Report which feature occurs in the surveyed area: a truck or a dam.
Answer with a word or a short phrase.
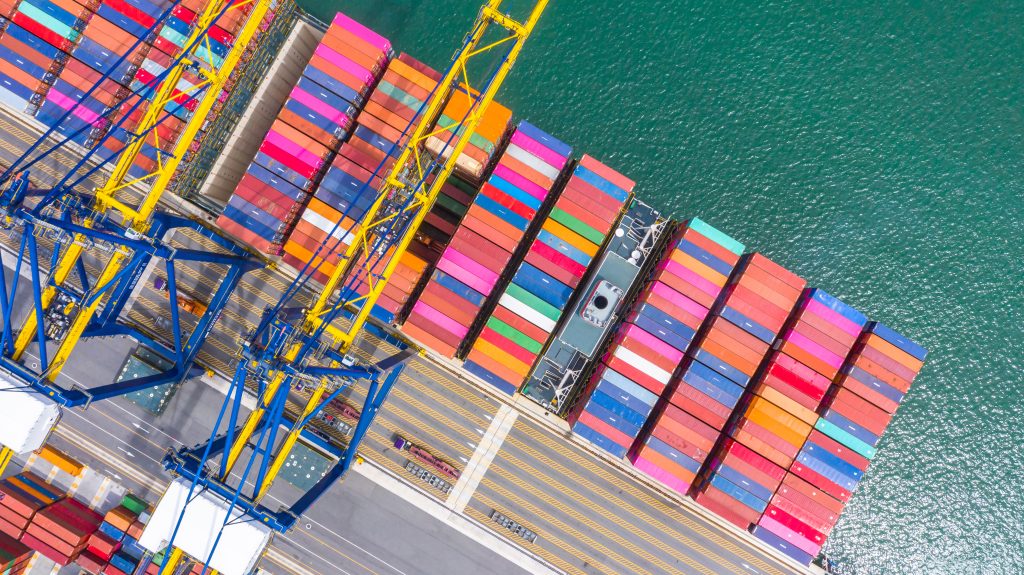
truck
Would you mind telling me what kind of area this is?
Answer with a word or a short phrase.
port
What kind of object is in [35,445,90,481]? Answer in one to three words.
shipping container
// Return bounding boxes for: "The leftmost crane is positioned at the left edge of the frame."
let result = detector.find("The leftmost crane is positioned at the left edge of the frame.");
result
[0,0,271,476]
